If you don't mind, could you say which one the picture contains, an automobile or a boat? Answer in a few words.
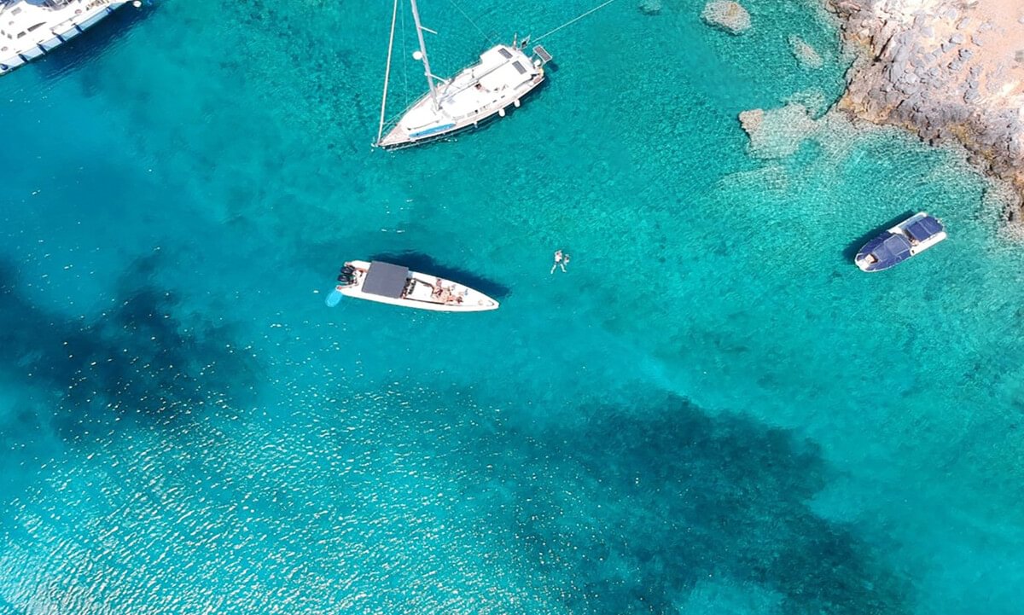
boat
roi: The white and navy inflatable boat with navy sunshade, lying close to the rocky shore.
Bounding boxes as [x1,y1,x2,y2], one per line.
[858,210,943,273]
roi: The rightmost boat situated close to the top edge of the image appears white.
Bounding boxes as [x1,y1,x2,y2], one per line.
[373,0,552,151]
